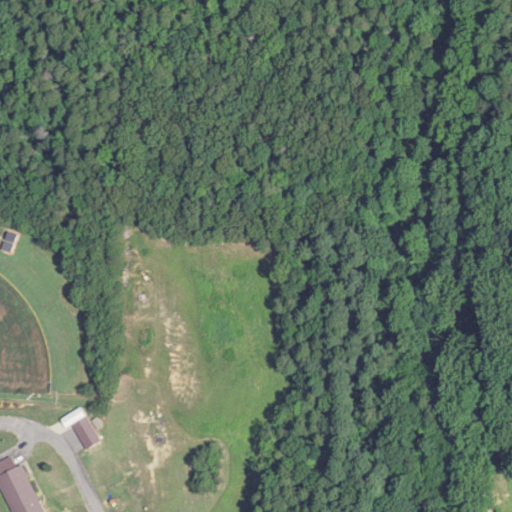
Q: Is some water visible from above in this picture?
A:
No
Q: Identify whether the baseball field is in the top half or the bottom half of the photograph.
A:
bottom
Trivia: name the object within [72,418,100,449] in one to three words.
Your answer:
house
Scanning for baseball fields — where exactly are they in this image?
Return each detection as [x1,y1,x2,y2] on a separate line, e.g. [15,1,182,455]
[0,276,50,392]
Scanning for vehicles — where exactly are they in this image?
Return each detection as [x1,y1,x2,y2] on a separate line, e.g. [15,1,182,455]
[14,456,24,463]
[18,440,27,448]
